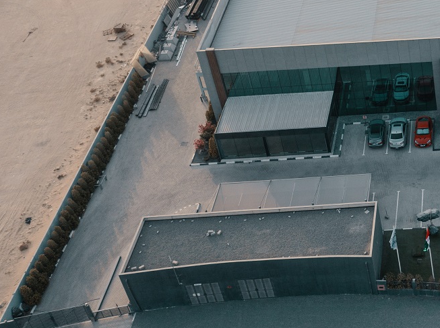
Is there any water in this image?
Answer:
No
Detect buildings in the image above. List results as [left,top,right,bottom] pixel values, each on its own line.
[120,202,382,313]
[196,0,440,160]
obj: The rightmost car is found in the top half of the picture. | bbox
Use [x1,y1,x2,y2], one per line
[413,114,432,144]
